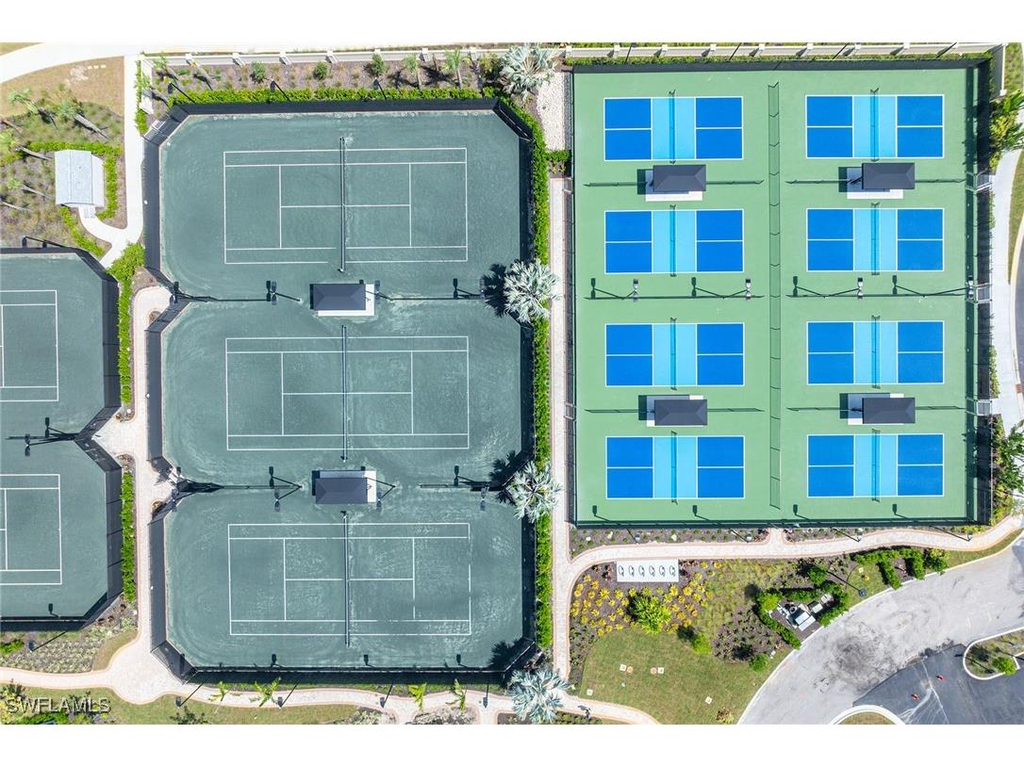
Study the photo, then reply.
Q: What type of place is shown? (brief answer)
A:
sports ground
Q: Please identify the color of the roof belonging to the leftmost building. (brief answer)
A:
white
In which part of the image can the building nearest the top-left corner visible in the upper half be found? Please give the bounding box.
[56,148,104,207]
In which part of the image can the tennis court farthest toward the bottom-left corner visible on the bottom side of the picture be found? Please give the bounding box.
[0,440,122,620]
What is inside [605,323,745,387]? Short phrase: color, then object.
blue sports court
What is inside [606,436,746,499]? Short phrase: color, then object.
blue sports court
